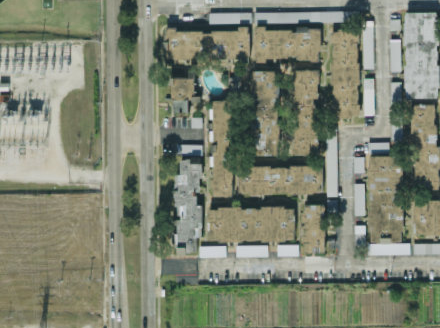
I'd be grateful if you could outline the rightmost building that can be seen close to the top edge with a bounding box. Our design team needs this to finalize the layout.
[404,12,439,100]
